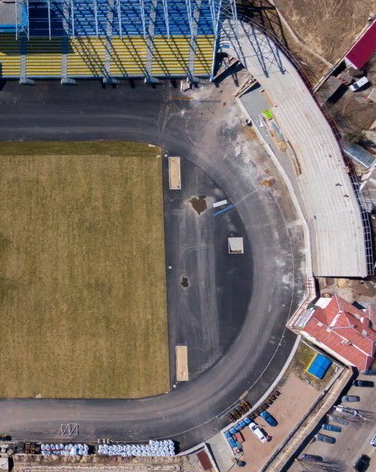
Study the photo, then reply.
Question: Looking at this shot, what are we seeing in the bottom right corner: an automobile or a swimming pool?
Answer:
automobile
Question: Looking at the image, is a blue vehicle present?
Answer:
Yes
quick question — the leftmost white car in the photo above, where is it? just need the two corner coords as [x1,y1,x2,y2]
[251,424,268,442]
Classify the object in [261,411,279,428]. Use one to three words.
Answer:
car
